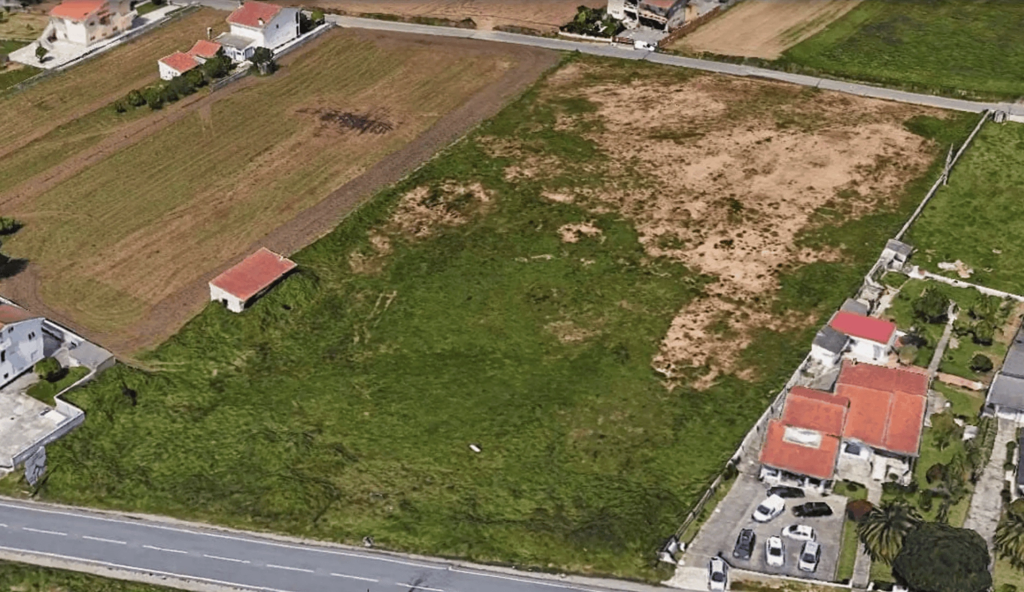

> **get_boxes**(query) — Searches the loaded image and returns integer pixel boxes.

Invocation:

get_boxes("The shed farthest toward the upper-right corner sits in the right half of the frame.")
[880,242,914,281]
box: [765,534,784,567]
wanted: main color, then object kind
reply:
white car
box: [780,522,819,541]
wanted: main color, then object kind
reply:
white car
